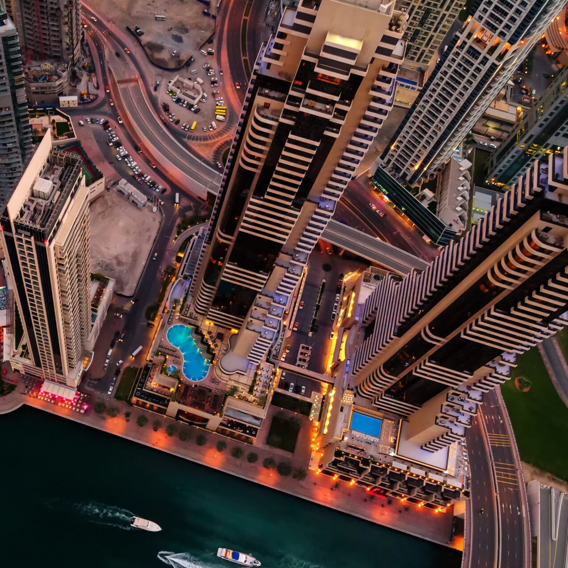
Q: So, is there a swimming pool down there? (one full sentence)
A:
Yes, the image includes a swimming pool.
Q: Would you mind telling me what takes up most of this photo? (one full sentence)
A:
The scene is dominated by buildings.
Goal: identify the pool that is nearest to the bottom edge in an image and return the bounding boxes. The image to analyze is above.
[350,413,382,436]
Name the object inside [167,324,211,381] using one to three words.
swimming pool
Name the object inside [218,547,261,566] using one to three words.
boat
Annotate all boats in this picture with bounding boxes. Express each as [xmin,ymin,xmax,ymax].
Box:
[131,518,161,530]
[218,547,261,566]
